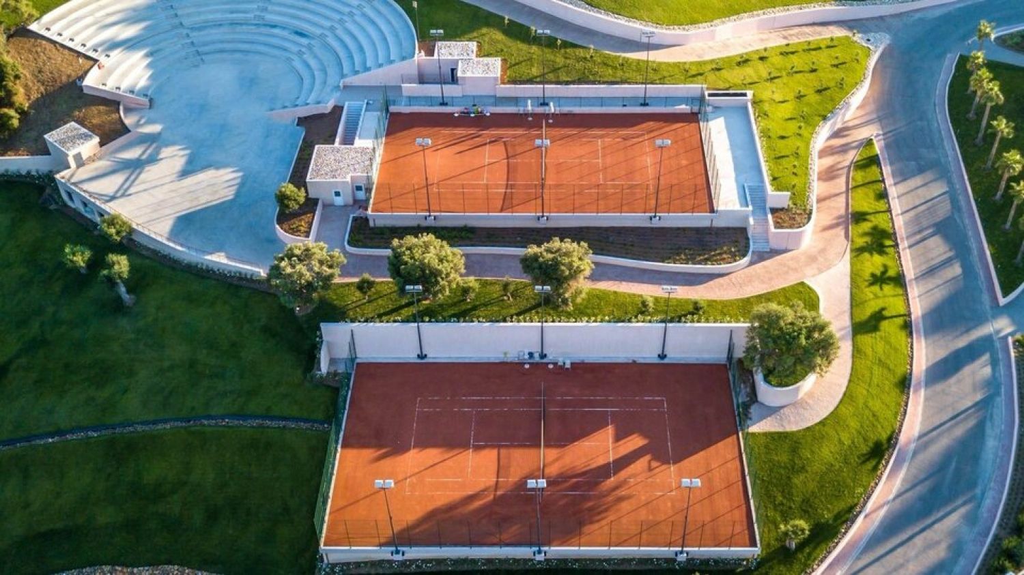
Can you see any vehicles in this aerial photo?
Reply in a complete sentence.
No, no vehicle can be seen from above.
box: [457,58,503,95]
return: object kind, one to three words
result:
building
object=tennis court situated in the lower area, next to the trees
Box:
[324,362,756,548]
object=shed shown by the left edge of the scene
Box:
[47,123,104,169]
